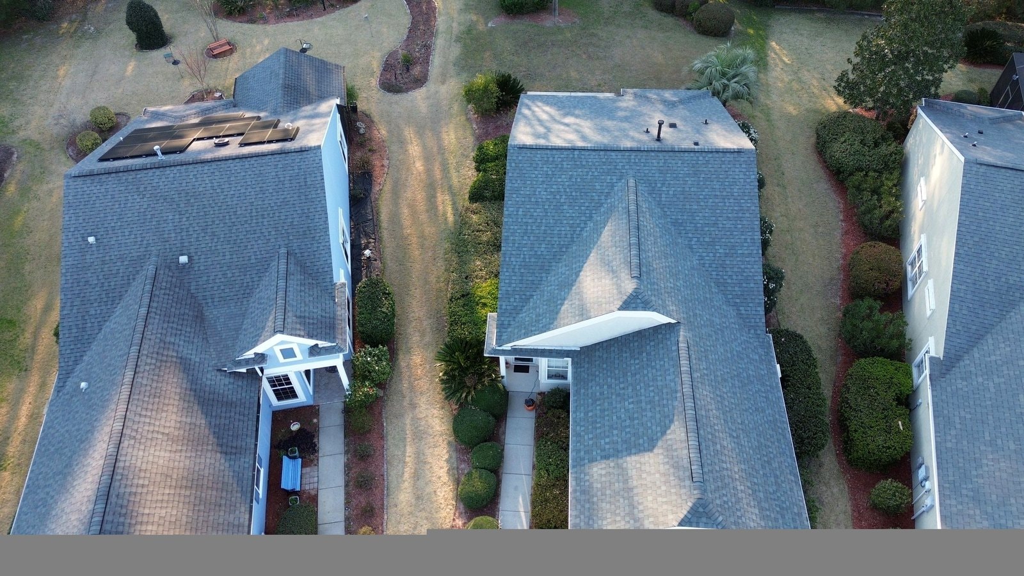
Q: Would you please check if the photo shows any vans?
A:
No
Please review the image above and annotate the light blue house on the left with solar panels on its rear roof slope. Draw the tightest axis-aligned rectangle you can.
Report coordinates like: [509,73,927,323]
[0,48,355,576]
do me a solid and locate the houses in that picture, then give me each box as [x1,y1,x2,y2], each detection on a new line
[900,98,1024,576]
[484,87,820,573]
[0,48,355,576]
